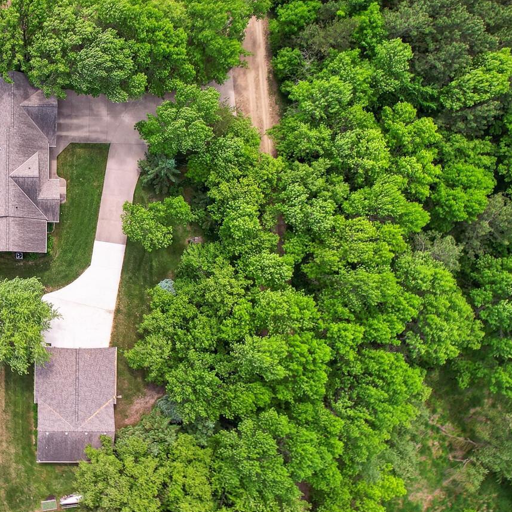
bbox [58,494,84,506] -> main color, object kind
white boat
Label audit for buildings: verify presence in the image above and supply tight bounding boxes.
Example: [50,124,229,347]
[0,72,60,252]
[34,346,122,463]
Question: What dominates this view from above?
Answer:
trees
